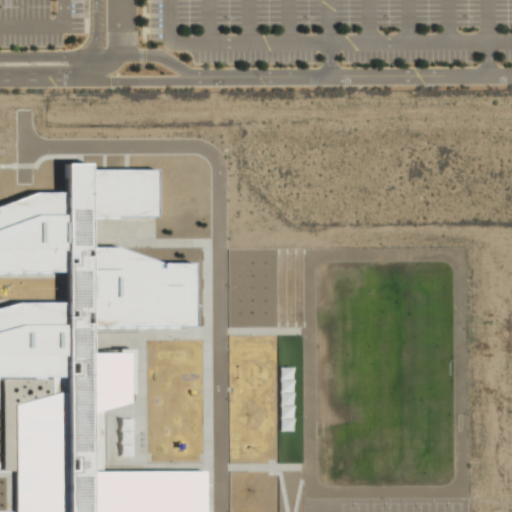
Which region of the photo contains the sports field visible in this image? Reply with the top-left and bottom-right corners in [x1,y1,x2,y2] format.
[317,262,453,486]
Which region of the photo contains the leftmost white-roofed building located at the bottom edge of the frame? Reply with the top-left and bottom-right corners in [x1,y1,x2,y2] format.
[16,392,69,512]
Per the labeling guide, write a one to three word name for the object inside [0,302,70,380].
building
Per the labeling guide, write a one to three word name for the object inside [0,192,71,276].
building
